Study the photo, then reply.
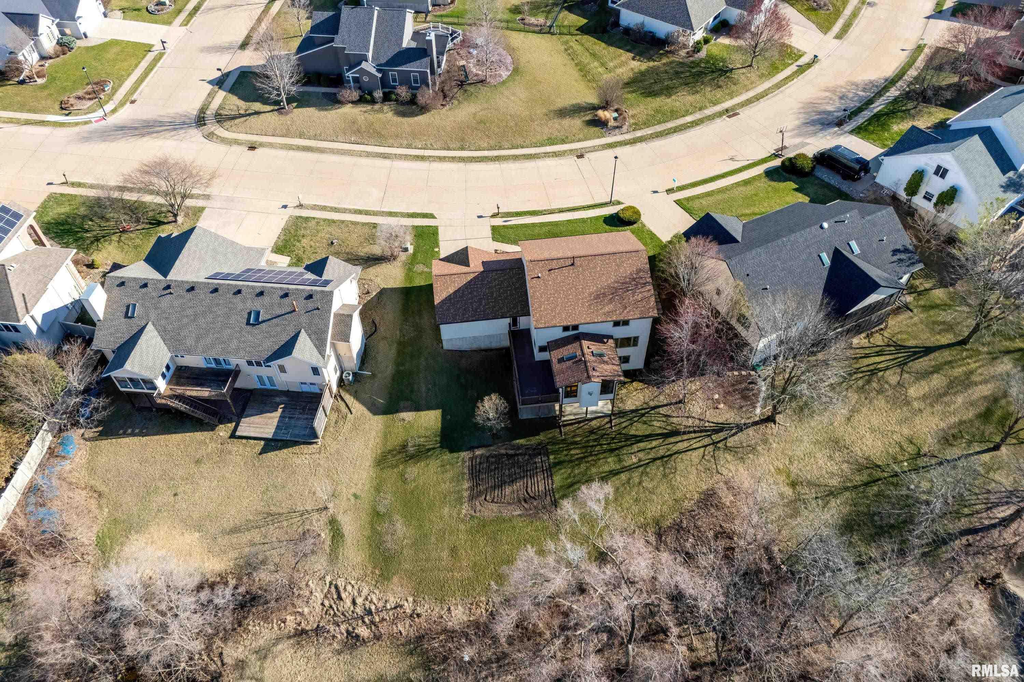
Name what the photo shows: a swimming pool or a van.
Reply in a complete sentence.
Of the two, only a van appears.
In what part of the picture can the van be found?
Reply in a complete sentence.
The van appears toward the top right of the photo.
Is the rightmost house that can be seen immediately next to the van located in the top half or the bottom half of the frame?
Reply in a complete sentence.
The rightmost house that can be seen immediately next to the van is in the top half of the image.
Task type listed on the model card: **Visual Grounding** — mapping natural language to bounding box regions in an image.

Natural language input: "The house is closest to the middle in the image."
[432,231,657,439]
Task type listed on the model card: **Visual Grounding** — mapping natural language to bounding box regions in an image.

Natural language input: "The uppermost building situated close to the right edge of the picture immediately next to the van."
[871,72,1024,248]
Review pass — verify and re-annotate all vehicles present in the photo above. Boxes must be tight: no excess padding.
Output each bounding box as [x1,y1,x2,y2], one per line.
[816,143,873,177]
